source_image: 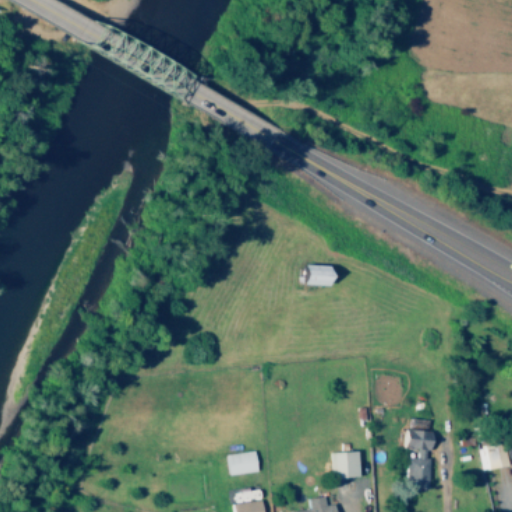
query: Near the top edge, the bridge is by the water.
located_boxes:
[7,0,288,158]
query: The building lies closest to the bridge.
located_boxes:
[305,264,340,288]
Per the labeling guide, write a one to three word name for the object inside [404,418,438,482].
house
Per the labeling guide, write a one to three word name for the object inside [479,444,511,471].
house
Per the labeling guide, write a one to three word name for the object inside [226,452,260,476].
shed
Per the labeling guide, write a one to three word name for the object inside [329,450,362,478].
building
